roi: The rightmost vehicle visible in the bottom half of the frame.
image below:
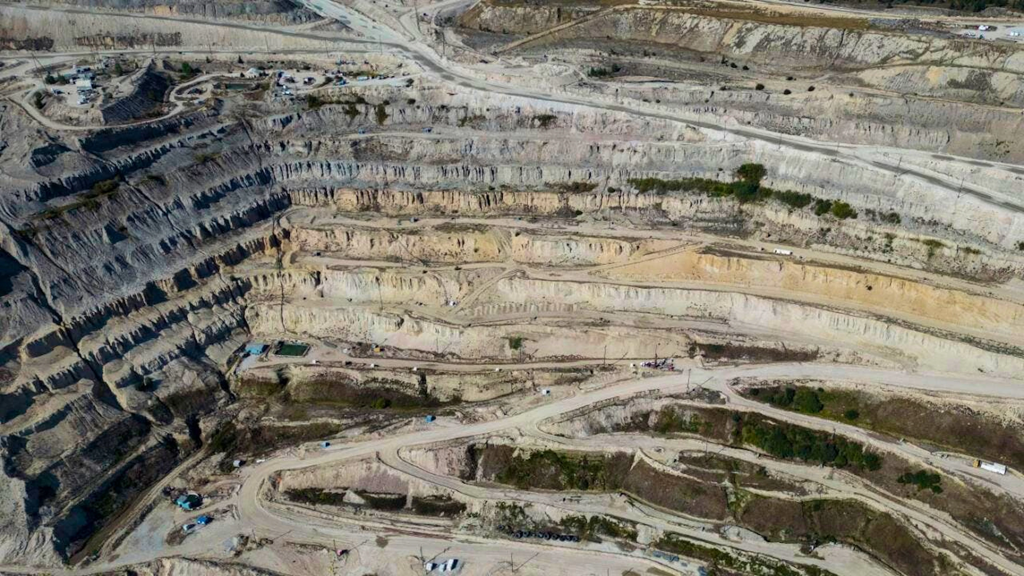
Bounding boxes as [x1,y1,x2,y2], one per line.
[973,460,1010,481]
